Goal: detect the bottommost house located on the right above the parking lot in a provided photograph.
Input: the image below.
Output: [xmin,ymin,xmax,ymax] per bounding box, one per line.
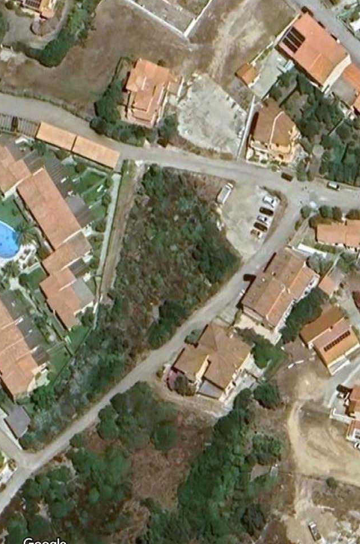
[247,102,299,162]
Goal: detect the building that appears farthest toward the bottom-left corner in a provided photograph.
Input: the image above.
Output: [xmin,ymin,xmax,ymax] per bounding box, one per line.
[3,404,31,438]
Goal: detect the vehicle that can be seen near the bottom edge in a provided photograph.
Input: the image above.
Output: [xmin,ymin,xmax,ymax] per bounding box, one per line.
[308,523,320,542]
